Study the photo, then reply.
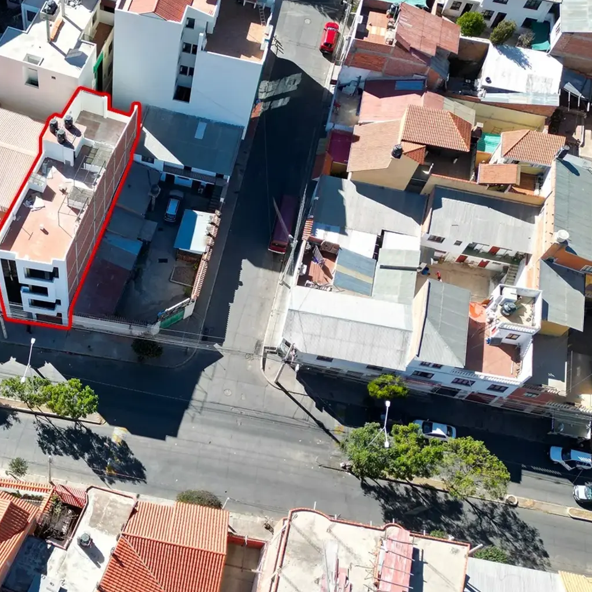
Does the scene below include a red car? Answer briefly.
Yes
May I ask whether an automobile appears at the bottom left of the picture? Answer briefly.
No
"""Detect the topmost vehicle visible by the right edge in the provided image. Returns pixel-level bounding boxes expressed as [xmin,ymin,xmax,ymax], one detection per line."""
[548,446,592,475]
